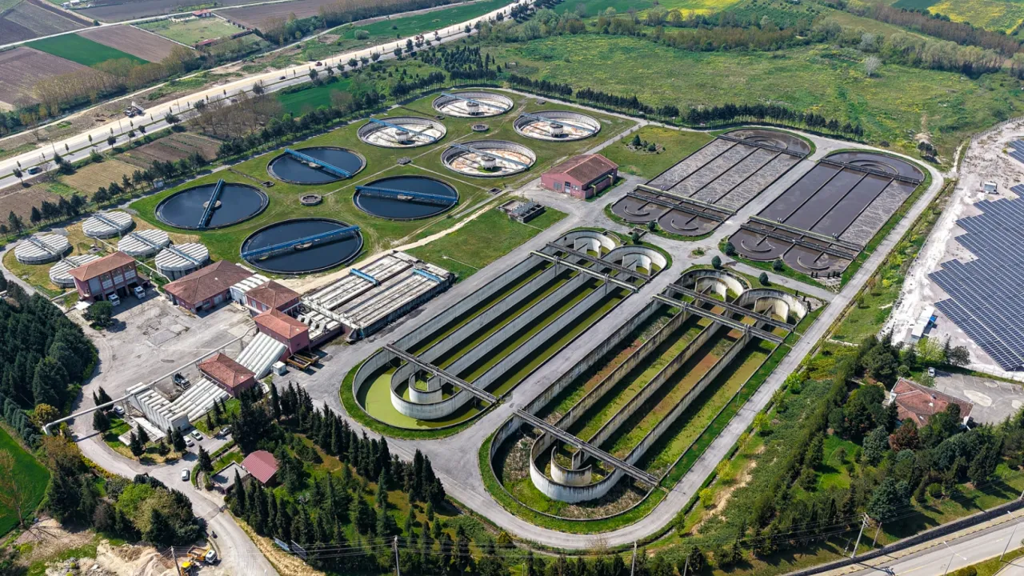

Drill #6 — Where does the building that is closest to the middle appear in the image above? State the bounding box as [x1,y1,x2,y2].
[542,154,621,200]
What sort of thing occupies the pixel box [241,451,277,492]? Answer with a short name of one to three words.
building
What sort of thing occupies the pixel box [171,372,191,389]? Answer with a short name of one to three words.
vehicle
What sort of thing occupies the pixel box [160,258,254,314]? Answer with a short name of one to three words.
building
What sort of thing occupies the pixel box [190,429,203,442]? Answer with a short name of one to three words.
vehicle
